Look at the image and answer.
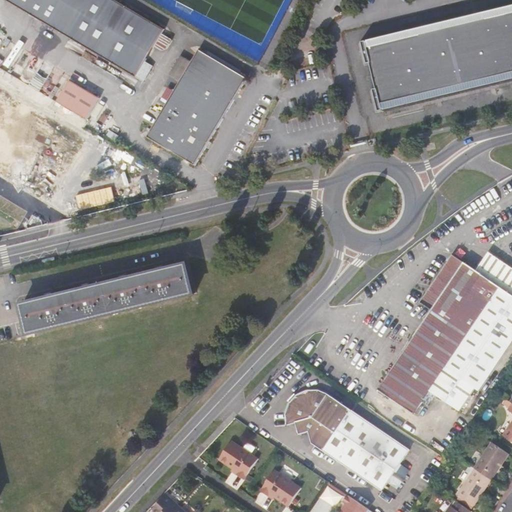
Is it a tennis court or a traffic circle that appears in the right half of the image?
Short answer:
traffic circle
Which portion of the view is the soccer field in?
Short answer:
top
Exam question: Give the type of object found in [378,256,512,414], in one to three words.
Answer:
building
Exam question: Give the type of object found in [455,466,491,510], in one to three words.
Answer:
house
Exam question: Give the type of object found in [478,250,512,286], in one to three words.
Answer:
building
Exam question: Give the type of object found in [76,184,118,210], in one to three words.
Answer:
shed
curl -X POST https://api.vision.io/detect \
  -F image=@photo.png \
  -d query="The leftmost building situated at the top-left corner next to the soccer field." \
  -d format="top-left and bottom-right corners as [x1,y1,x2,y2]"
[4,0,166,76]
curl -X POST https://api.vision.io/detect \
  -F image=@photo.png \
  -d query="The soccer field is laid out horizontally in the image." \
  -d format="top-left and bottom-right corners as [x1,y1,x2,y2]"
[140,0,296,64]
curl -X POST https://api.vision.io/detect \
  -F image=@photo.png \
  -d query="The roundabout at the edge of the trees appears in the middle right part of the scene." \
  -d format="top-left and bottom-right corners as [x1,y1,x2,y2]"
[312,146,471,280]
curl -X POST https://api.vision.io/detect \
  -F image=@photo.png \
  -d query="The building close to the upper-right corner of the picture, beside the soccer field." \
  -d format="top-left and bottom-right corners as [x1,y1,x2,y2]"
[360,4,512,110]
